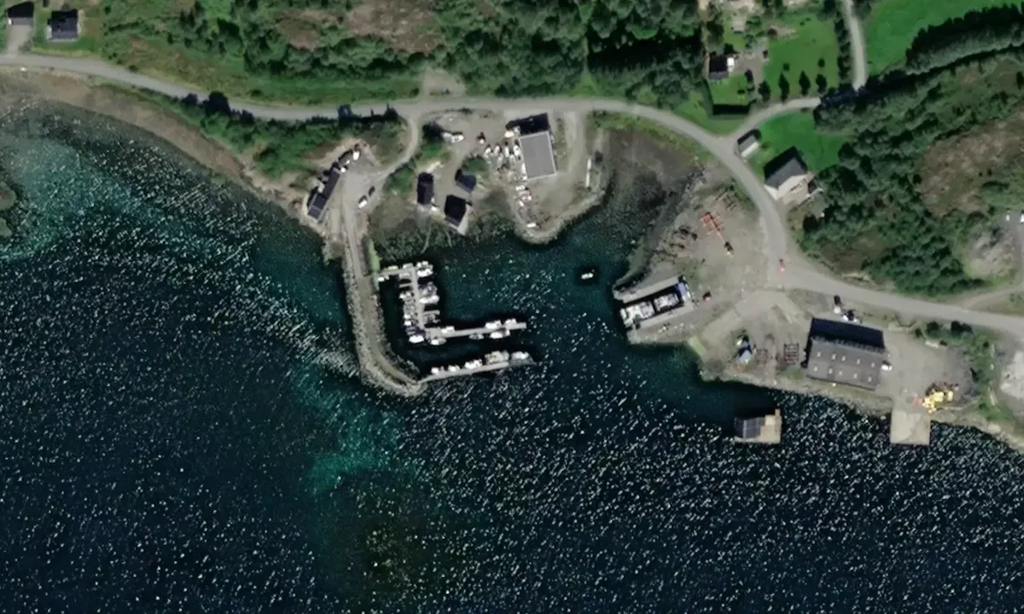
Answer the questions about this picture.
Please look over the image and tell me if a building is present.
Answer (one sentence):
Yes, there is a building in the image.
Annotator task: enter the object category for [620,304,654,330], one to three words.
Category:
boat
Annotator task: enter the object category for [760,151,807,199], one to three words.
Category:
house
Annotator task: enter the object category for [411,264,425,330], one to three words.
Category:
pier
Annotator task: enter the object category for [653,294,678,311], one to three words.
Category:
boat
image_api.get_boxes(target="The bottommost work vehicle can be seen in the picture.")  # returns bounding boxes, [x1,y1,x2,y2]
[923,390,946,406]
